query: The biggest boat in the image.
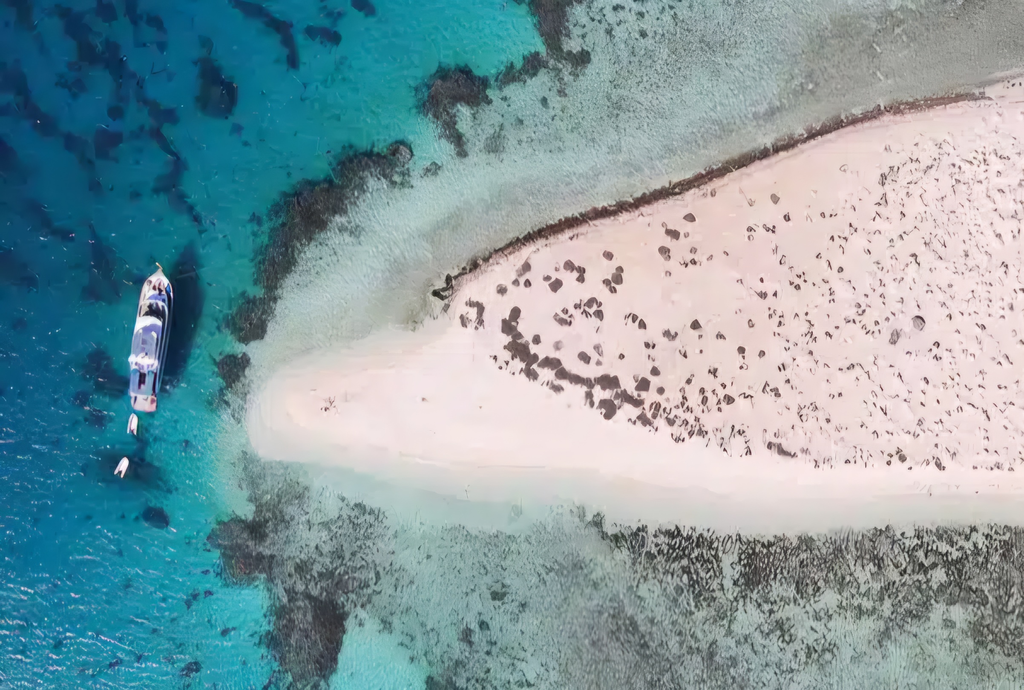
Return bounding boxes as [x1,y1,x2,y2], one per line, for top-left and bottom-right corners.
[122,265,175,413]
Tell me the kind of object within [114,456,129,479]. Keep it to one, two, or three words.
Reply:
boat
